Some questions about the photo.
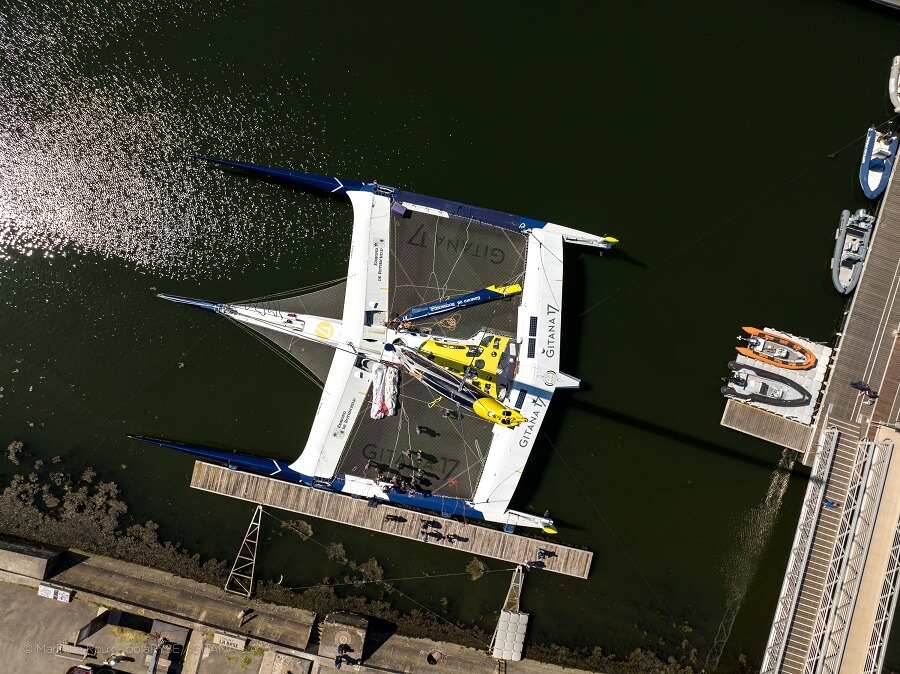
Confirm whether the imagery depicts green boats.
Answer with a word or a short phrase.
No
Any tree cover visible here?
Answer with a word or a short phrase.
No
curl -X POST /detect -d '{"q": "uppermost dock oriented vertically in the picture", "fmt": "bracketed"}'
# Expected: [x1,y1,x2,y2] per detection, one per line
[802,146,900,470]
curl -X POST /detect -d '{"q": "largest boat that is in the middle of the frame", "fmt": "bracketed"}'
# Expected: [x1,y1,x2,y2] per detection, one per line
[127,156,618,533]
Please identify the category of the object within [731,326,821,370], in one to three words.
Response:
boat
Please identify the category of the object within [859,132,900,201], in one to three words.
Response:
boat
